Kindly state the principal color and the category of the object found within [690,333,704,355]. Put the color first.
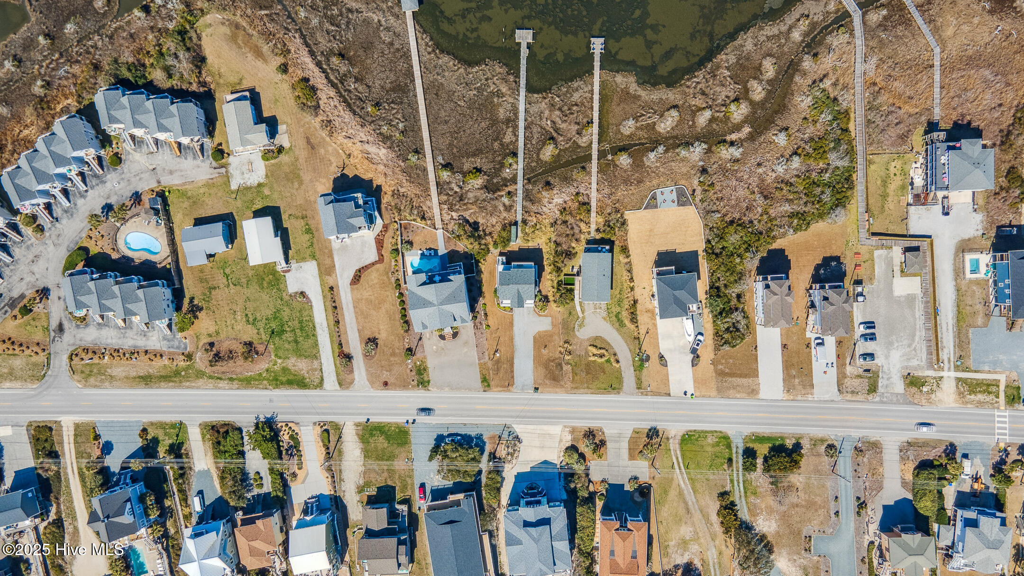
white vehicle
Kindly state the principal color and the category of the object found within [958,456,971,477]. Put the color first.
white vehicle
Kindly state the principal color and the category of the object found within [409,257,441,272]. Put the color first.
blue swimming pool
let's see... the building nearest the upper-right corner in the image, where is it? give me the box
[910,131,995,206]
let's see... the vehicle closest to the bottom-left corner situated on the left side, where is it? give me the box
[193,492,205,511]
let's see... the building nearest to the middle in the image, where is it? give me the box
[496,257,538,308]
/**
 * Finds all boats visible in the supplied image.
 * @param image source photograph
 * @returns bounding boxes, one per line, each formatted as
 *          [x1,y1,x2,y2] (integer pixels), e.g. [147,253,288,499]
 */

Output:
[682,314,694,341]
